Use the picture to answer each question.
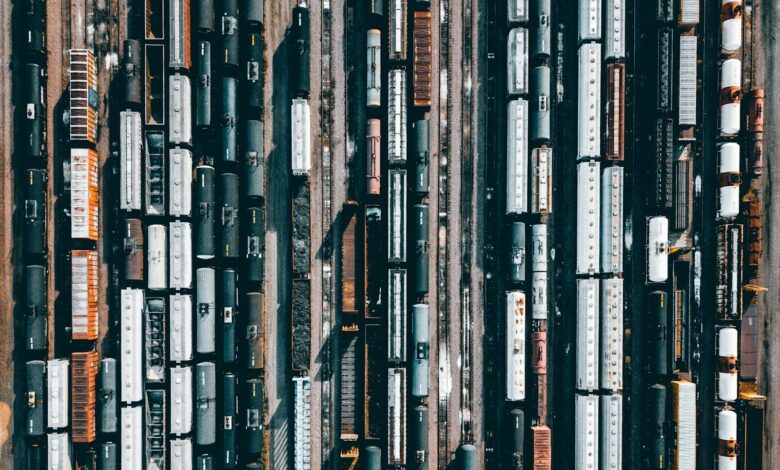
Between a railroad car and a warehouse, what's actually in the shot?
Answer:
railroad car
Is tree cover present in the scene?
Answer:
No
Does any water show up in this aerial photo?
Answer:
No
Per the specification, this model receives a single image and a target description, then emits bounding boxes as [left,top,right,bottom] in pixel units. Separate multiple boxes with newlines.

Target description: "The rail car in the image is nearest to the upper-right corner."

[720,0,746,57]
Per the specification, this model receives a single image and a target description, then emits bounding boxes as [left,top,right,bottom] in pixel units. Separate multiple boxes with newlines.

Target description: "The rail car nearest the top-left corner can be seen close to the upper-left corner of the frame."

[21,0,45,59]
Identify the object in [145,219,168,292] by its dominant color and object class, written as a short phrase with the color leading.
white rail car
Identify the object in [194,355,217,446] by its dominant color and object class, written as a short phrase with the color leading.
gray rail car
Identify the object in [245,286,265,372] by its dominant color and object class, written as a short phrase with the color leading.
gray rail car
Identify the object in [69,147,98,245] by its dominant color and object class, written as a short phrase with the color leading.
white rail car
